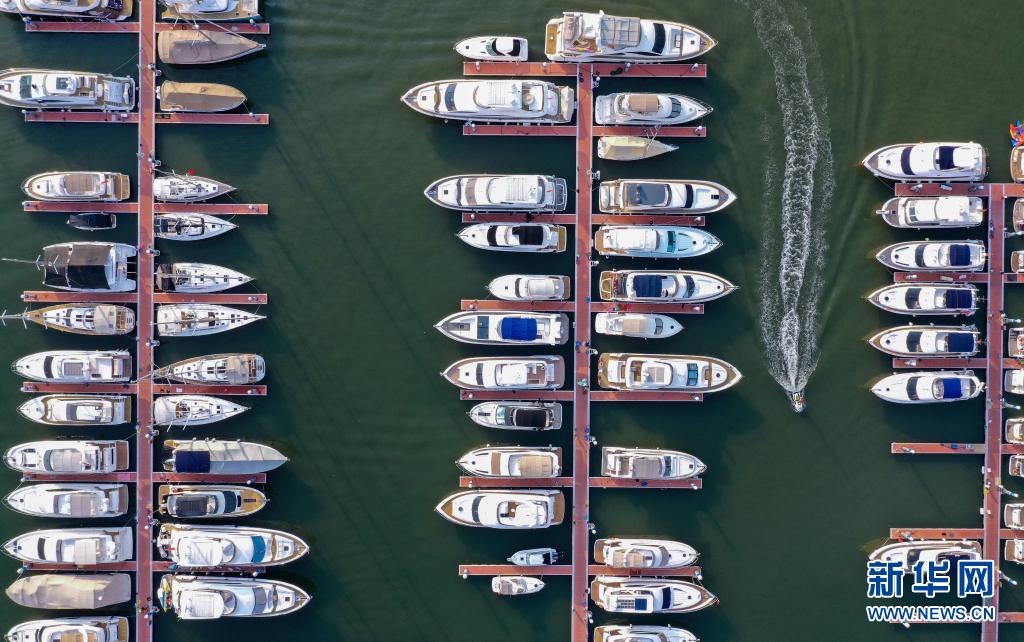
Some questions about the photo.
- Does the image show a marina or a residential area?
marina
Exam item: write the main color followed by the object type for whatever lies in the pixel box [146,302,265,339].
white boat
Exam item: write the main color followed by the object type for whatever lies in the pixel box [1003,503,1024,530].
white boat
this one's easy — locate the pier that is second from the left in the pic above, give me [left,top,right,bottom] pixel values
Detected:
[459,61,706,642]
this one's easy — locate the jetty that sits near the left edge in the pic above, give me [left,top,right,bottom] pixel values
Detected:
[23,0,270,642]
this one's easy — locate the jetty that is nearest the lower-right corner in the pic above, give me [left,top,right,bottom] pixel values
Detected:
[888,182,1024,642]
